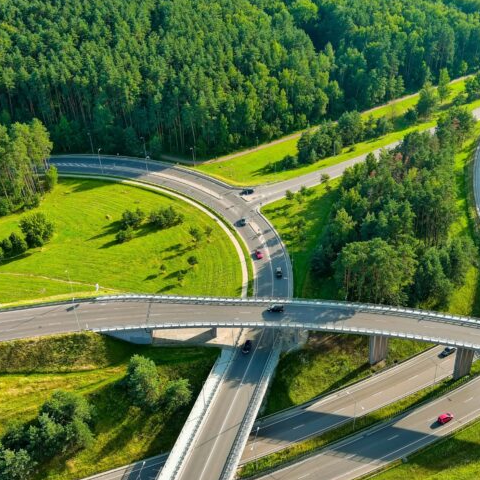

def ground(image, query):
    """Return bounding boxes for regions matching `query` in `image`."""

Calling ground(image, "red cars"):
[435,413,453,425]
[254,249,262,259]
